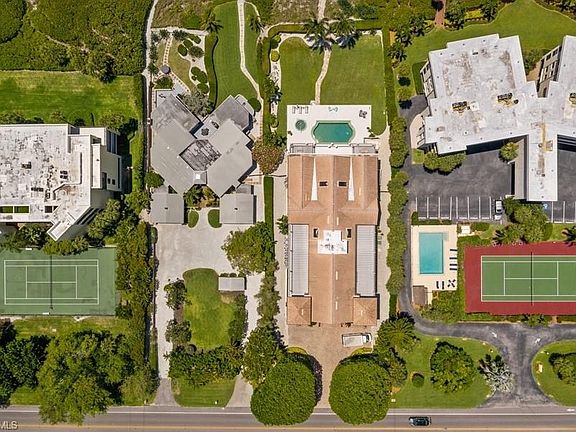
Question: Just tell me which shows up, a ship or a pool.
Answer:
pool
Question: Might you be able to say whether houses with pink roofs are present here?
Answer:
No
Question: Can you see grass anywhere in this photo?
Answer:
Yes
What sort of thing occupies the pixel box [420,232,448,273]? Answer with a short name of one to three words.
swimming pool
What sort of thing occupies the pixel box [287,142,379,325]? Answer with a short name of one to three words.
house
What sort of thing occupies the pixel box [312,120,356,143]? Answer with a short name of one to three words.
swimming pool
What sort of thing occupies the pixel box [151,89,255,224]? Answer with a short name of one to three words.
house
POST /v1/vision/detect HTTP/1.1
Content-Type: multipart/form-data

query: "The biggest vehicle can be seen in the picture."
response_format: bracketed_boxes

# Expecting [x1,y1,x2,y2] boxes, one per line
[342,334,371,348]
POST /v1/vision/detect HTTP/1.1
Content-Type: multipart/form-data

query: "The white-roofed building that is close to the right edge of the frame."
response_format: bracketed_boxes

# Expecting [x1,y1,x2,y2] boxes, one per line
[414,34,576,200]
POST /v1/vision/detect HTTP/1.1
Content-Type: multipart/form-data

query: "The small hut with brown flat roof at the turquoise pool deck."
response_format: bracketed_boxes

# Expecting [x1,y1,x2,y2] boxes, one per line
[410,286,428,306]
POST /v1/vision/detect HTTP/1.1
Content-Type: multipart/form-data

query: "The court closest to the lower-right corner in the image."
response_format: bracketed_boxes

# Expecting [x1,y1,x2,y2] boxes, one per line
[465,242,576,313]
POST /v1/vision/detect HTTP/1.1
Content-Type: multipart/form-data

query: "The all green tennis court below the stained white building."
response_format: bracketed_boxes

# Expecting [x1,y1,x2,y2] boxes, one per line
[0,247,116,315]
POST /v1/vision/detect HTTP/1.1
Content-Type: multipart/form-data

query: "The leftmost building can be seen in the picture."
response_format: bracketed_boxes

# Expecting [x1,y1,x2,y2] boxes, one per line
[0,124,122,240]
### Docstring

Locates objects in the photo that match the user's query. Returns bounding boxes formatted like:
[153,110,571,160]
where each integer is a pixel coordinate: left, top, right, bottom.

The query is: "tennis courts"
[465,242,576,313]
[0,247,116,315]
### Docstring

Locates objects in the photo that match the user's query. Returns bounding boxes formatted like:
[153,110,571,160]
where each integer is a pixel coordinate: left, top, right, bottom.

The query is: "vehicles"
[409,416,429,426]
[493,200,505,220]
[342,334,371,348]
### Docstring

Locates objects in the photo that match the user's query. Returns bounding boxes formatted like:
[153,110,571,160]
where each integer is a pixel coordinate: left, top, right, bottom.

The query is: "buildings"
[410,286,428,306]
[287,142,379,325]
[151,89,255,224]
[0,124,122,240]
[414,34,576,200]
[219,277,245,291]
